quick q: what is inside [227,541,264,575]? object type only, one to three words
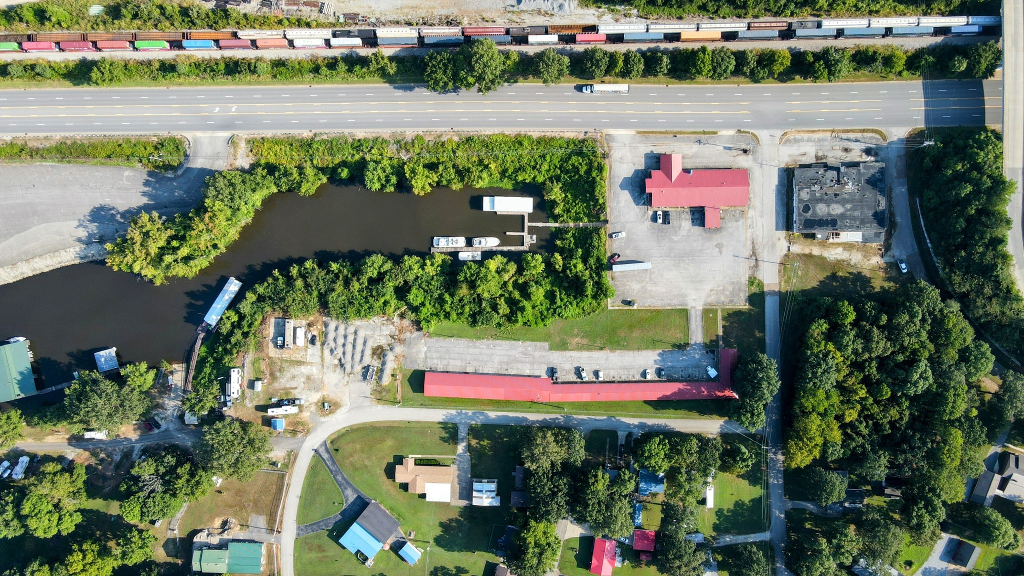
building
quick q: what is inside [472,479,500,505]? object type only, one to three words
building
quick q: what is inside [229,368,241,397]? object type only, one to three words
vehicle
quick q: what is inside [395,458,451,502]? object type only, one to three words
house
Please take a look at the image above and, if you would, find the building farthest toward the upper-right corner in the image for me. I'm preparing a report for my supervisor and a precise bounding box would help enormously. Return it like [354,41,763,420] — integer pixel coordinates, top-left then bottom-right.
[791,162,886,244]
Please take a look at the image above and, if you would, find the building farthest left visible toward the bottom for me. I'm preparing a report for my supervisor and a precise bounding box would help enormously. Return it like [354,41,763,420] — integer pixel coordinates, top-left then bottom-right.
[0,339,44,406]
